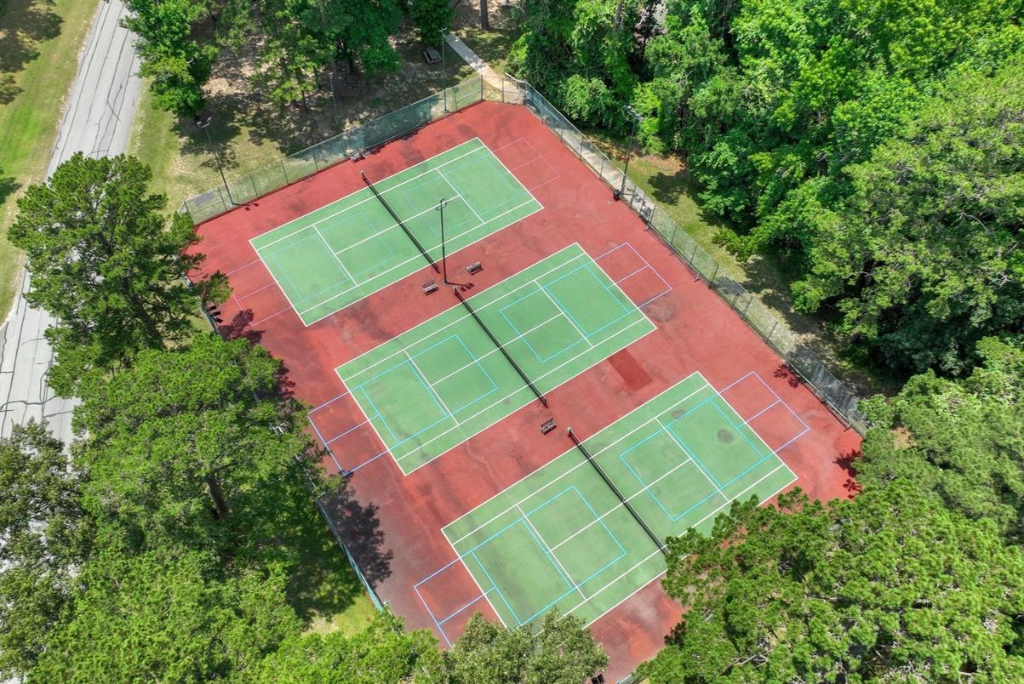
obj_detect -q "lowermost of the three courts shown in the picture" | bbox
[414,372,809,663]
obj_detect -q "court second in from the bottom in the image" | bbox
[309,243,672,476]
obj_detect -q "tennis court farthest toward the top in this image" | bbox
[222,138,561,326]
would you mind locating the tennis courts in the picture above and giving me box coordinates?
[309,243,672,476]
[414,372,809,663]
[222,138,561,326]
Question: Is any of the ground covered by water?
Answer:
No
